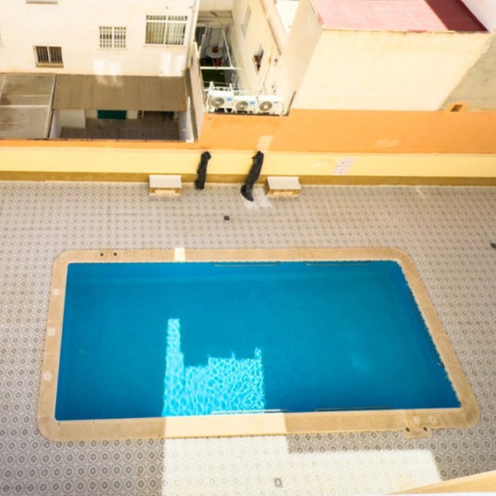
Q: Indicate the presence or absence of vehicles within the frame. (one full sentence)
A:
No, the frame has no vehicle in it.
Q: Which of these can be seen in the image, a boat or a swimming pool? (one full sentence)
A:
The image shows a swimming pool.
